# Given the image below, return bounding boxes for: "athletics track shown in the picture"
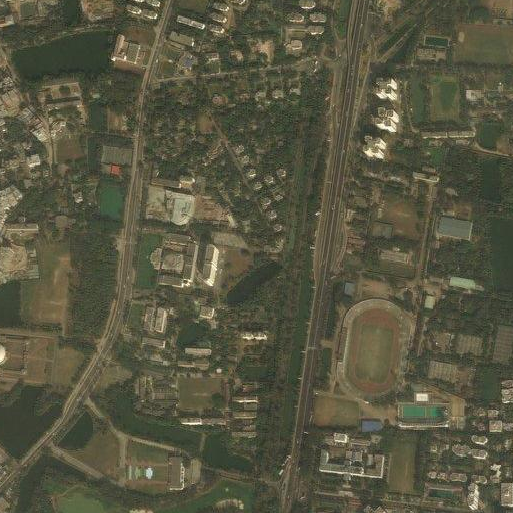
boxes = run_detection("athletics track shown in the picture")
[347,304,404,396]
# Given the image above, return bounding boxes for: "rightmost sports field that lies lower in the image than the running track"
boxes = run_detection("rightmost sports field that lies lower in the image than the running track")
[388,441,415,493]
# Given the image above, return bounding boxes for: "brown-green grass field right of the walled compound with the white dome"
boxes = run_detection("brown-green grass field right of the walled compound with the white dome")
[54,347,82,385]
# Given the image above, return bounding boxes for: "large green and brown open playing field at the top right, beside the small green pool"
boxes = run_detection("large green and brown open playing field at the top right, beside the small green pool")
[455,24,513,64]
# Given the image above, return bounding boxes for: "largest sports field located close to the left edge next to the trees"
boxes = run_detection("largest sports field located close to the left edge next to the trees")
[21,239,69,324]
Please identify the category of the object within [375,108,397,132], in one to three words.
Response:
building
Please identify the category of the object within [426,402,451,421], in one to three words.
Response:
swimming pool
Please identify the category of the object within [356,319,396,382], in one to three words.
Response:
sports field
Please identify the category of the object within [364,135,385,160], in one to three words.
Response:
building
